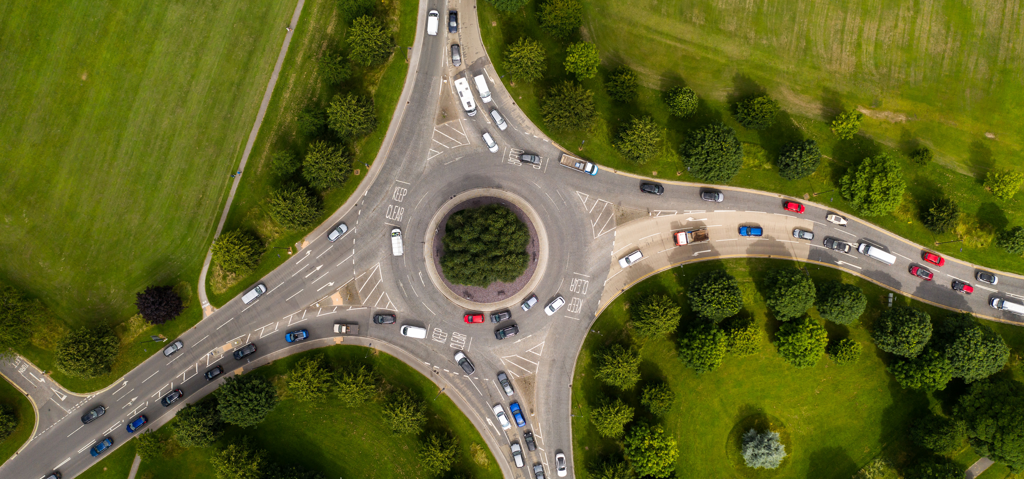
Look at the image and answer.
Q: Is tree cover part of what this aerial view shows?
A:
Yes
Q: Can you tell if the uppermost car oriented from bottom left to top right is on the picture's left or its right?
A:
left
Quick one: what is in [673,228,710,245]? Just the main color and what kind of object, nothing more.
white vehicle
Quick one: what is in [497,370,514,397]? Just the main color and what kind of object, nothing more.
gray car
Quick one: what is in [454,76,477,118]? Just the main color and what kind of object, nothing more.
white camper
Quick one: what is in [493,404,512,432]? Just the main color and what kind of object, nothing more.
white car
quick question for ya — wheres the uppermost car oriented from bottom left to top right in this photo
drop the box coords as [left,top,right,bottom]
[326,222,349,243]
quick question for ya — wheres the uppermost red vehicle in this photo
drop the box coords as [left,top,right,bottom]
[783,201,805,214]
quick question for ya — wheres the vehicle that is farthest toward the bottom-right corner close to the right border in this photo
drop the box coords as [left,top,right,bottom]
[985,297,1024,320]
